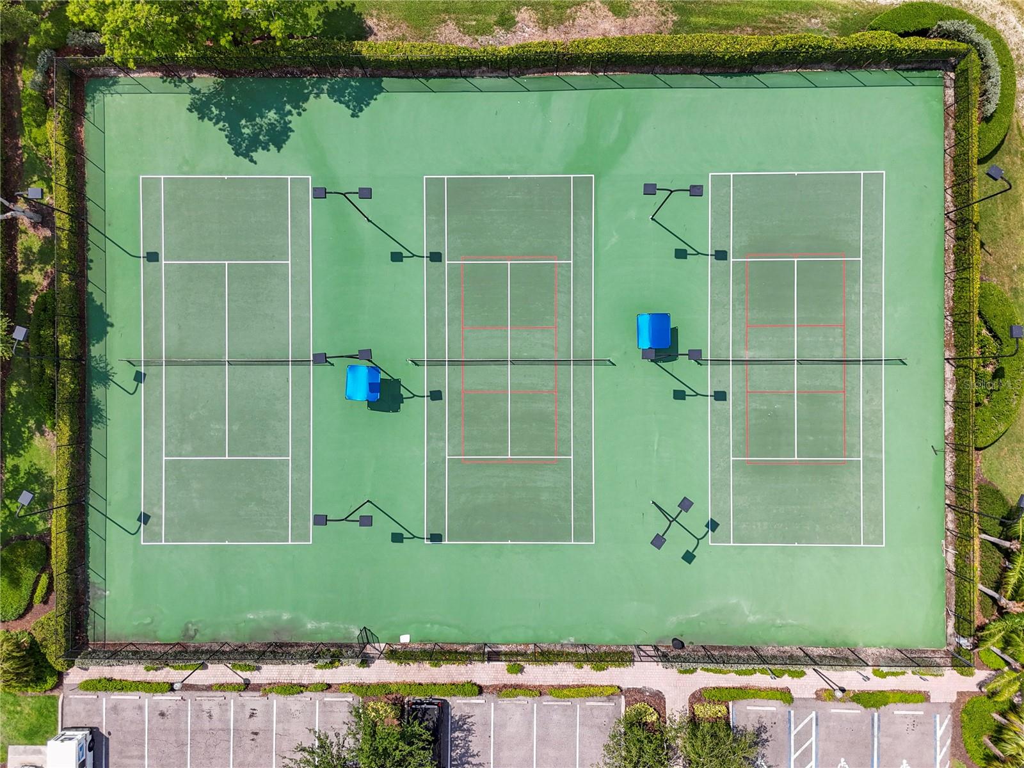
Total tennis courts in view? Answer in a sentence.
The number of tennis courts here is 3.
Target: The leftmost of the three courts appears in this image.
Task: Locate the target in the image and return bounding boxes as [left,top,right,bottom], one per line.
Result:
[140,176,311,544]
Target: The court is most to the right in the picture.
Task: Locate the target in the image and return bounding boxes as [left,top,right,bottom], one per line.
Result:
[709,171,885,546]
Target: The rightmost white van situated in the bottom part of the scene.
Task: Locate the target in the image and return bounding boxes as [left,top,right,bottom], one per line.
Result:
[49,724,97,768]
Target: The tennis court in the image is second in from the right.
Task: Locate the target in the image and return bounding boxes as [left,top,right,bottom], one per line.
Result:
[425,175,595,544]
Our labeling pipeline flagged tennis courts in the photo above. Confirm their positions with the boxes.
[709,171,885,546]
[140,176,311,544]
[425,175,595,544]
